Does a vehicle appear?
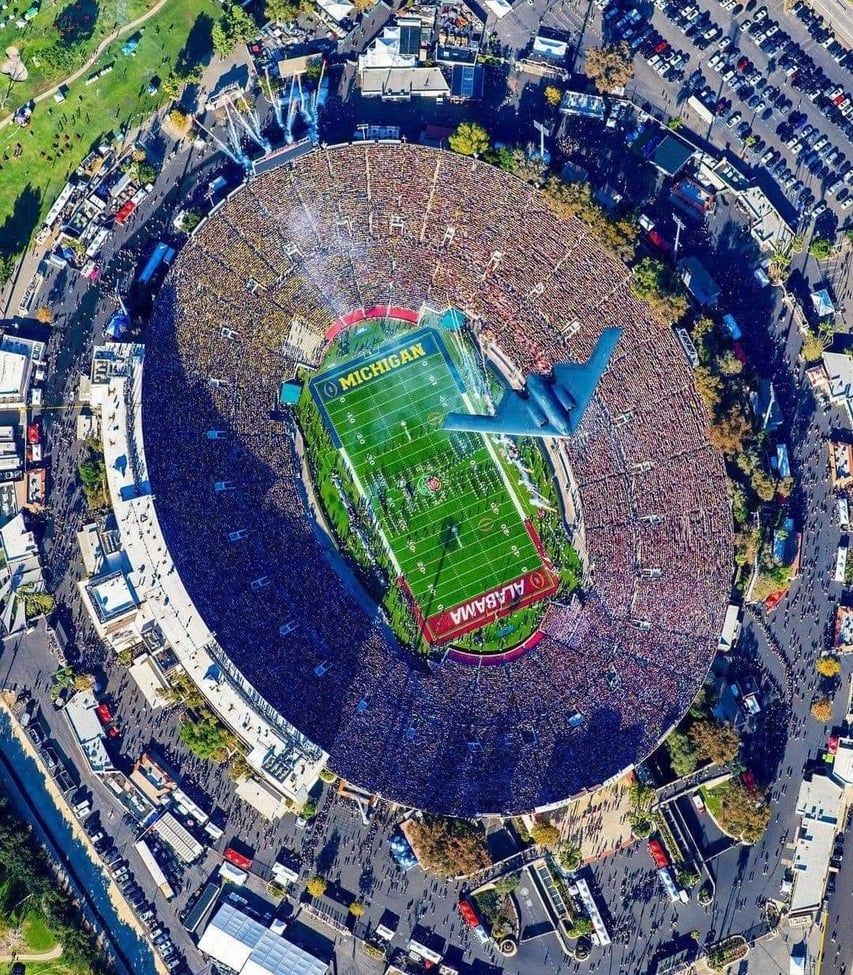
Yes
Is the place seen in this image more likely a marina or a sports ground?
sports ground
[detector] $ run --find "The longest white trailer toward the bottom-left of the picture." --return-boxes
[135,841,175,900]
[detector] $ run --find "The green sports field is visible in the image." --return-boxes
[308,327,560,646]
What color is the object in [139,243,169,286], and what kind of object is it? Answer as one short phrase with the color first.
blue truck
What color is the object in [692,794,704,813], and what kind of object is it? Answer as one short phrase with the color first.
white vehicle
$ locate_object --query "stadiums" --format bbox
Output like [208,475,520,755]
[91,139,734,822]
